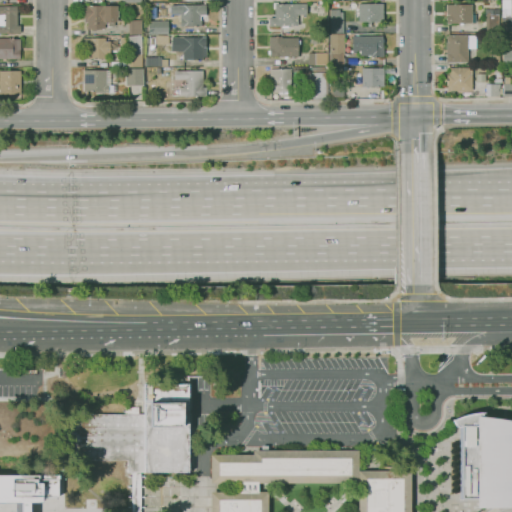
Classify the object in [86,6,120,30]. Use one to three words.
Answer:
house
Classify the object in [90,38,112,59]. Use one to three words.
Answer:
house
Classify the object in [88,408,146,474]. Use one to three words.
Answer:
building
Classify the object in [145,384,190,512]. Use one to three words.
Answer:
building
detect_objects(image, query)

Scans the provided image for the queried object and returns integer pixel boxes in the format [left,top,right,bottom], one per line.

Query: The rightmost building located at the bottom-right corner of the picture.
[456,412,512,508]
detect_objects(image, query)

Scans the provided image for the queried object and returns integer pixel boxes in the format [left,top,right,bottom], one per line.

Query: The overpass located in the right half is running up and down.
[395,125,444,300]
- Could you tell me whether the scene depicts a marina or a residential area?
residential area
